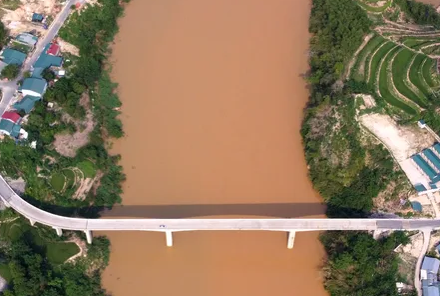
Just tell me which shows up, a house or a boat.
house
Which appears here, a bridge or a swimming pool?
bridge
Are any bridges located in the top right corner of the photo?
No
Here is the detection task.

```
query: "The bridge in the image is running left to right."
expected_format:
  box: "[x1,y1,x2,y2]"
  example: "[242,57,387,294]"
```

[1,190,384,249]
